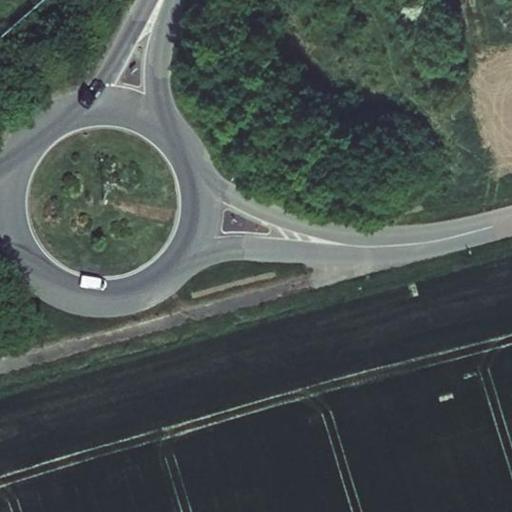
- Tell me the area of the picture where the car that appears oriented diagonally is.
top left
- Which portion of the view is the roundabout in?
left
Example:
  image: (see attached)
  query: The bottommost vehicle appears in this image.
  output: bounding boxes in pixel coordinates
[80,276,107,292]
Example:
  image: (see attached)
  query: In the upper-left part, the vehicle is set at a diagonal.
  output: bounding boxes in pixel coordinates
[82,81,104,108]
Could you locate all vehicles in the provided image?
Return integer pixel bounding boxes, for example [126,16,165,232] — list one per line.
[80,276,107,292]
[82,81,104,108]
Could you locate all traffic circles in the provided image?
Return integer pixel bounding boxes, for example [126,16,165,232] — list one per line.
[0,94,212,310]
